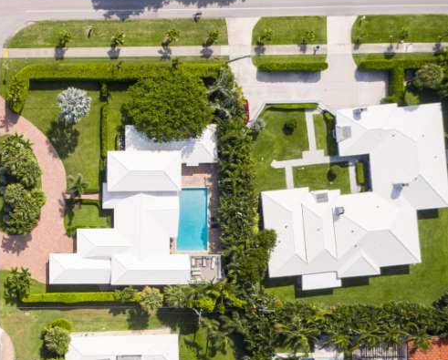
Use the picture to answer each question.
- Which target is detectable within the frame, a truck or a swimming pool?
swimming pool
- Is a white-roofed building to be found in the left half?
Yes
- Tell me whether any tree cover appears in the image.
Yes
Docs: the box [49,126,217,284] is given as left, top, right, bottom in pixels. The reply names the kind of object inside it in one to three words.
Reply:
house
